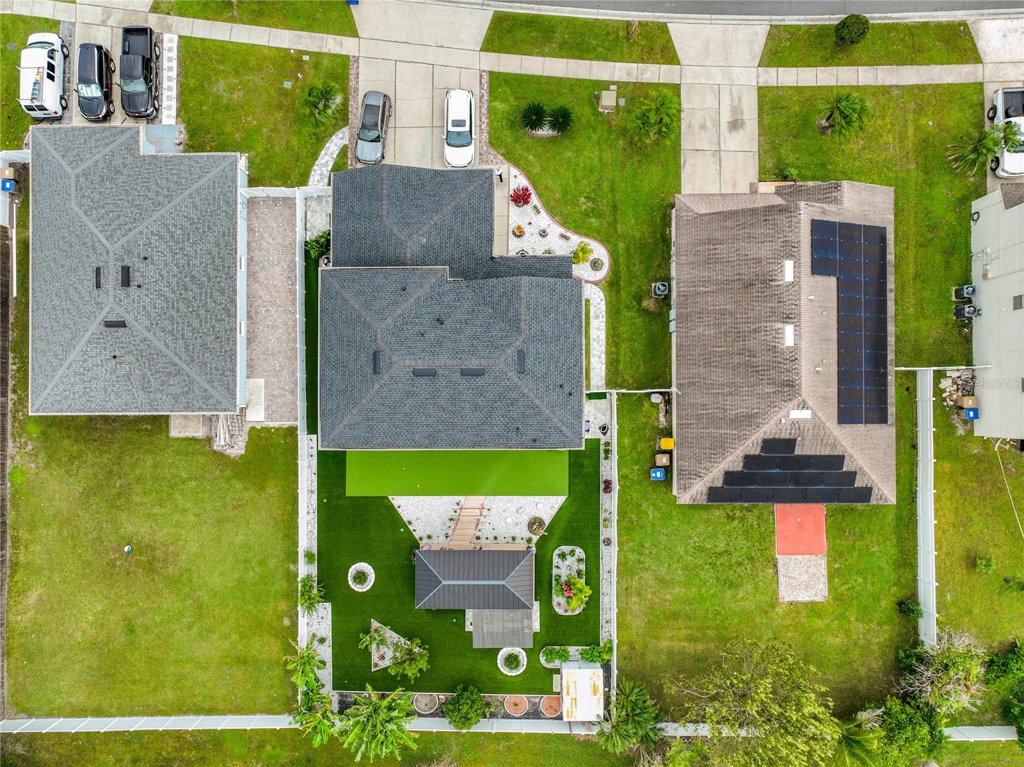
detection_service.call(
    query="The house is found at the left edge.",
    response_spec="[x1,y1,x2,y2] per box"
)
[28,123,250,417]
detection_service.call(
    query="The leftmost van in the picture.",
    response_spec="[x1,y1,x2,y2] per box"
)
[14,34,71,122]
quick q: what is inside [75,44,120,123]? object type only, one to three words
car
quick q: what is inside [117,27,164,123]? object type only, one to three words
truck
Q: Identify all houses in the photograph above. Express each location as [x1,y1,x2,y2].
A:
[668,181,896,505]
[973,183,1024,442]
[317,163,586,451]
[28,123,250,417]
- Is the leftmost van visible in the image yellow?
No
